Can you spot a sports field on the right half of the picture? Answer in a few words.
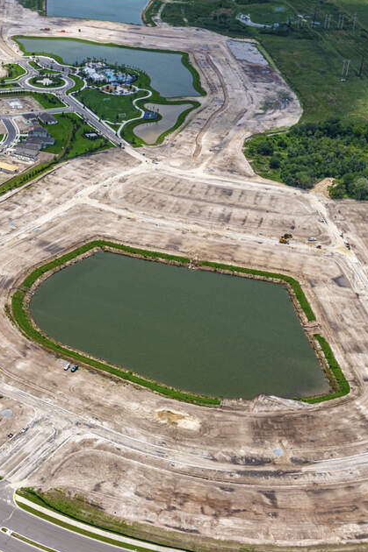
No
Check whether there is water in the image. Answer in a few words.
Yes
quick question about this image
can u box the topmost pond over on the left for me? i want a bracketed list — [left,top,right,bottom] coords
[44,0,148,24]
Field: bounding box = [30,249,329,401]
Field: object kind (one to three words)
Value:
pond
